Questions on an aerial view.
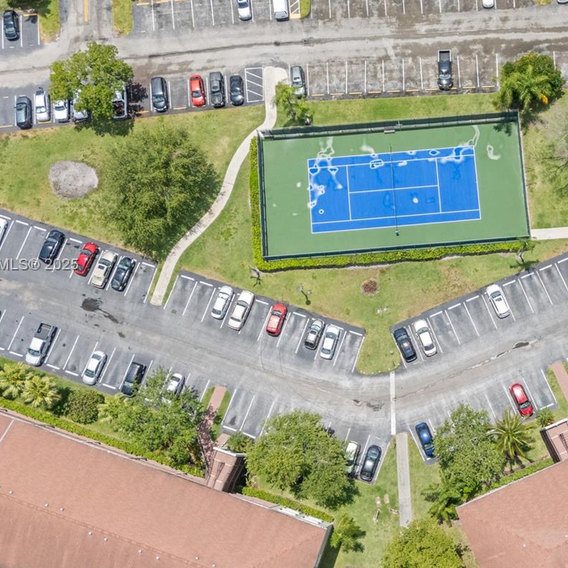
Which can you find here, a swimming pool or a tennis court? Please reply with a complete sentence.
The image shows a tennis court.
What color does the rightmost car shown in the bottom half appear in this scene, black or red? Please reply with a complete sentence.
The rightmost car shown in the bottom half is red.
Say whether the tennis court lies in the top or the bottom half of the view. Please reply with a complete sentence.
The top half of the photo is where the tennis court is.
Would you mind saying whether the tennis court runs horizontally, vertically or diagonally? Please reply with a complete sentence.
Seen from above, the tennis court lies horizontally.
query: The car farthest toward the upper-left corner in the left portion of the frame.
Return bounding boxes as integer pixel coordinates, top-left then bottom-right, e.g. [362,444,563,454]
[2,9,20,41]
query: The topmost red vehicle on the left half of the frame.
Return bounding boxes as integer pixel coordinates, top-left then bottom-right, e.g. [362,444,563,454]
[190,76,206,108]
